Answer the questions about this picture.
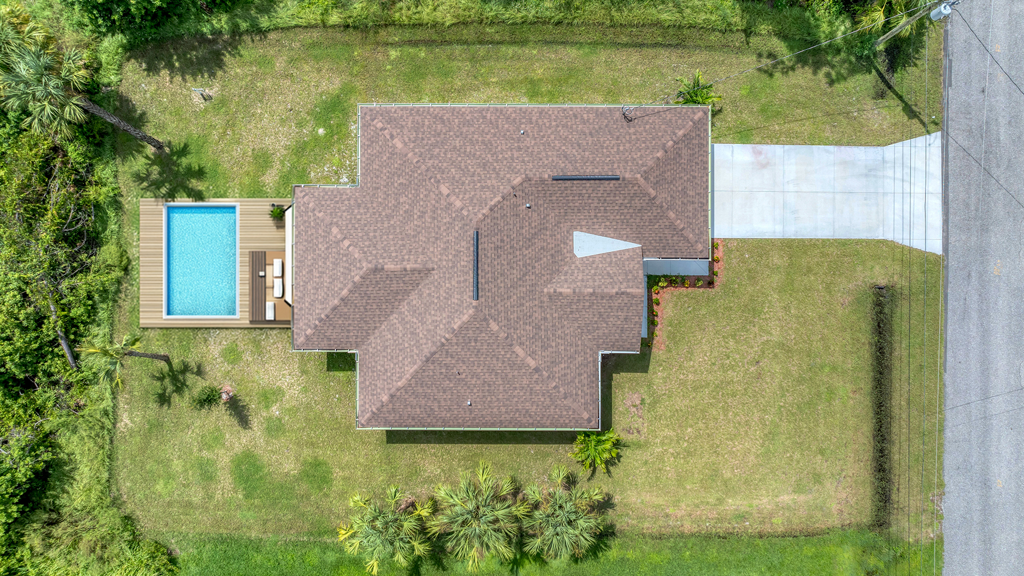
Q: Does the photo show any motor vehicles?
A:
No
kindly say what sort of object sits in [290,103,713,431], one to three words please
house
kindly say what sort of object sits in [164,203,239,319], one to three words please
swimming pool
